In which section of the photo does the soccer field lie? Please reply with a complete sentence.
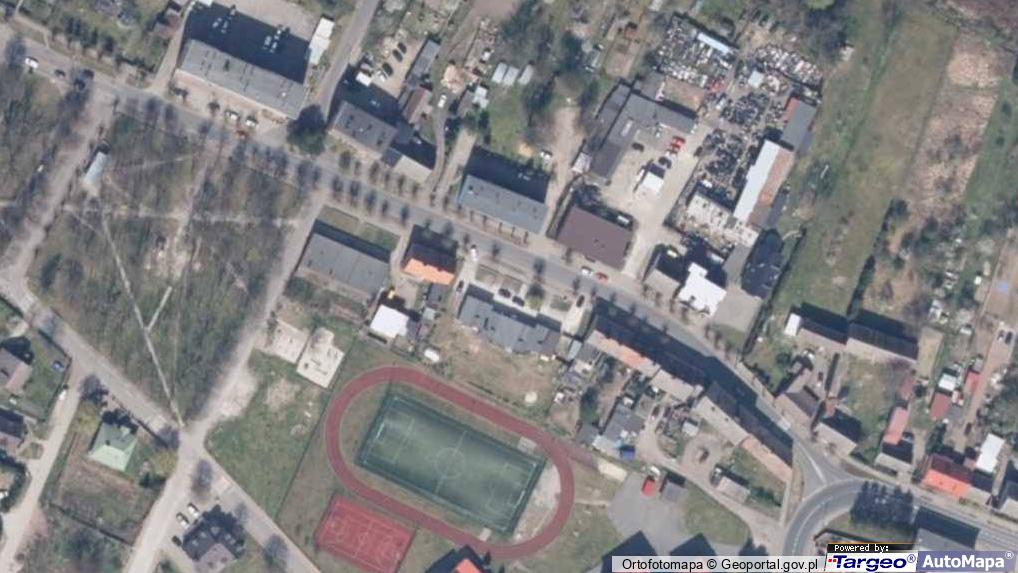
The soccer field sits in the bottom section of the image.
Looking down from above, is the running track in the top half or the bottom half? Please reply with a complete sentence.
You can find the running track in the bottom half.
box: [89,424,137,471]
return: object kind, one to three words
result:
building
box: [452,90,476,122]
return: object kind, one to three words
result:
shed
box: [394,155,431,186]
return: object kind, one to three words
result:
house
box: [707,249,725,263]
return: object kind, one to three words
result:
vehicle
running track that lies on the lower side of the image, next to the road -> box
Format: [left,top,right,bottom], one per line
[324,362,599,559]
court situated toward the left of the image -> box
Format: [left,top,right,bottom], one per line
[316,494,415,573]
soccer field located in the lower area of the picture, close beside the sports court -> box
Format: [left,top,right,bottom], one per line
[356,389,546,533]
